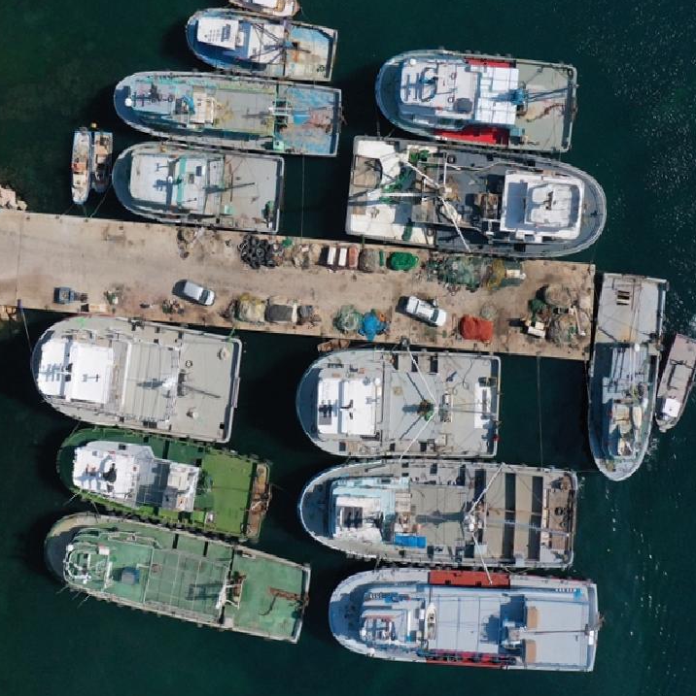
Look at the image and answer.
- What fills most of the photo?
water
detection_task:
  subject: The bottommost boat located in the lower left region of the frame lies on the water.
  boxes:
[43,513,314,644]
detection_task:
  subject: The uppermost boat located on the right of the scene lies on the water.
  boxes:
[374,50,576,155]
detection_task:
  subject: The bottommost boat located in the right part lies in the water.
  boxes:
[327,563,599,672]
